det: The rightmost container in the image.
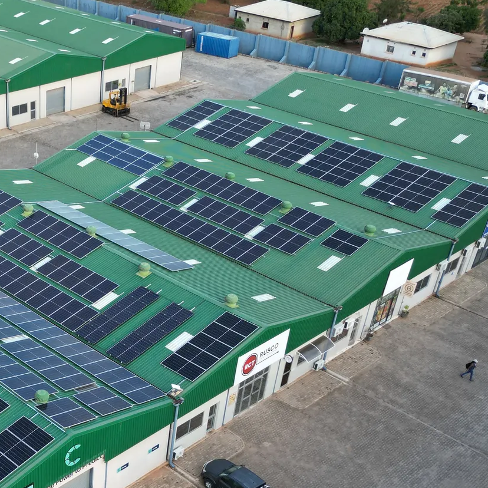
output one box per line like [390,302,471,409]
[195,33,237,59]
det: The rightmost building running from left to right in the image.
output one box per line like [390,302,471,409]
[364,24,457,66]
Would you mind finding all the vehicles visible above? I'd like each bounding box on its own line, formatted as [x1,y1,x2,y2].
[199,456,273,488]
[102,87,138,120]
[393,65,488,114]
